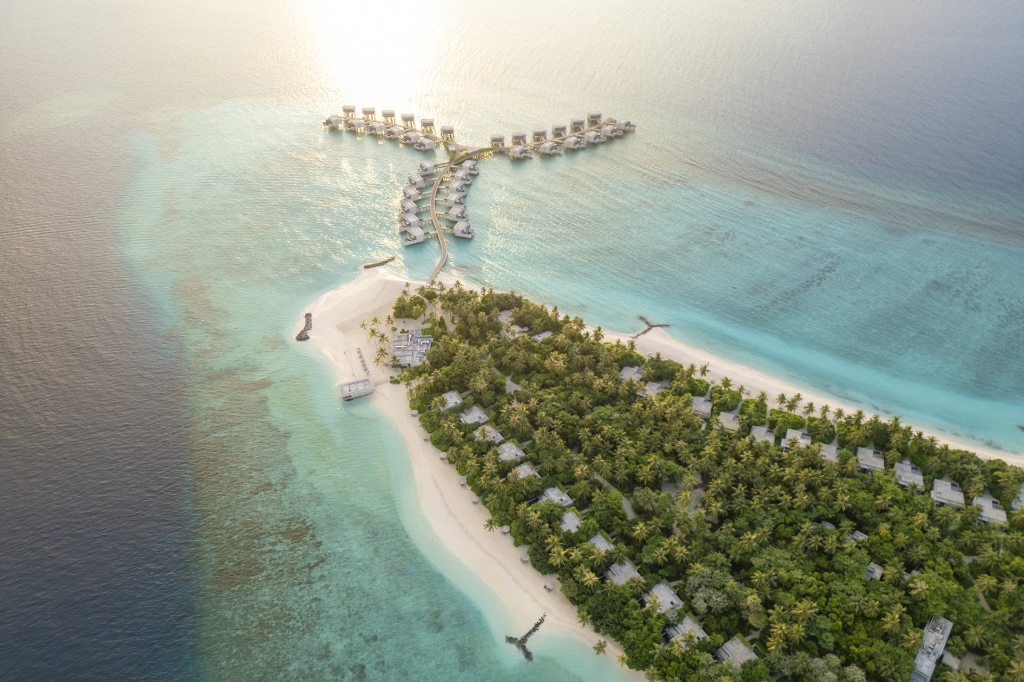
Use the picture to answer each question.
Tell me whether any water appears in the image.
Yes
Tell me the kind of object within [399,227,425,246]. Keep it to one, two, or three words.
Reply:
house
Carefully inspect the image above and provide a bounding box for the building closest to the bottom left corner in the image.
[340,379,378,405]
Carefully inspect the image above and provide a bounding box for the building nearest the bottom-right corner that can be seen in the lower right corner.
[894,616,953,682]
